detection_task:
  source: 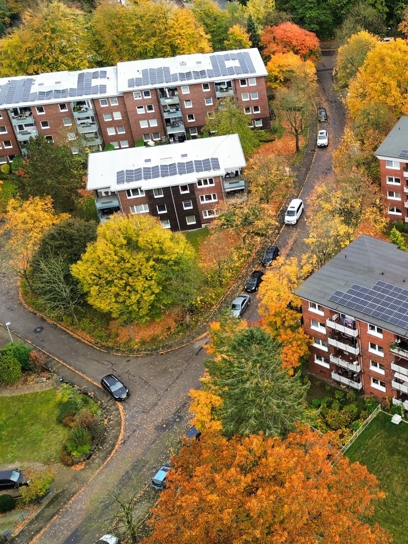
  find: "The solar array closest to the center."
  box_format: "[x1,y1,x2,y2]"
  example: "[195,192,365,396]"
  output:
[117,159,221,185]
